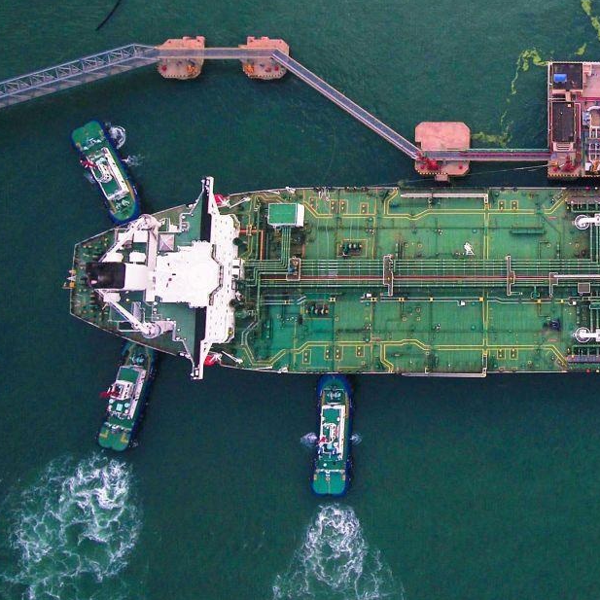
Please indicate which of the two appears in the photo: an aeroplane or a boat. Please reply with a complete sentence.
This aerial view contains a boat.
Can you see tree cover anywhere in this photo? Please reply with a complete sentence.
No, tree cover can't be seen anywhere here.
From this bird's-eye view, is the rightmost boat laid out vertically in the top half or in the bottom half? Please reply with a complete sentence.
The rightmost boat laid out vertically is in the bottom half of the image.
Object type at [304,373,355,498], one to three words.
boat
